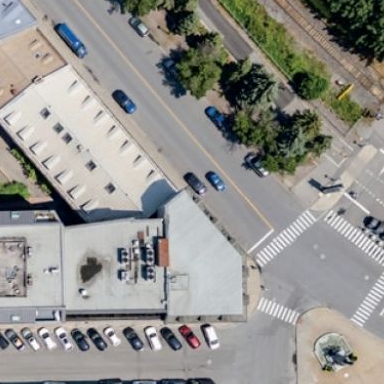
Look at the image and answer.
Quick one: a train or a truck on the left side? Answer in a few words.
truck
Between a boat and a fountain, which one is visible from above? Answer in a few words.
fountain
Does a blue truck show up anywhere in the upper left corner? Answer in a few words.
Yes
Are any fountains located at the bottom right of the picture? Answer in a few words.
Yes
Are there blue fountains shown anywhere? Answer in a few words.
No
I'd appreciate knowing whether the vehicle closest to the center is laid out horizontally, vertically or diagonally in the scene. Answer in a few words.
diagonally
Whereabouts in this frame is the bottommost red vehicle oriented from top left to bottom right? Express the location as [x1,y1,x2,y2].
[180,324,200,349]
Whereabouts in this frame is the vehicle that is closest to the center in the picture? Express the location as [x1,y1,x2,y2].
[183,170,207,196]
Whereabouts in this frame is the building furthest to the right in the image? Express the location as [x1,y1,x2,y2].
[154,188,247,320]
